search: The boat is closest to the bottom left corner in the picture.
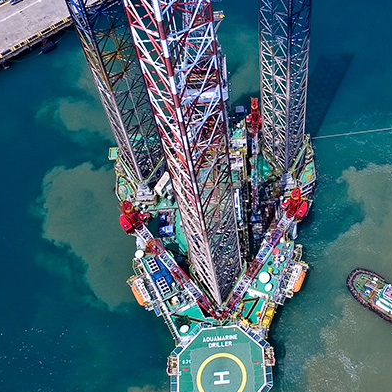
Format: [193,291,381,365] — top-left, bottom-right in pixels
[130,283,148,314]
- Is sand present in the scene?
No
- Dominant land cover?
water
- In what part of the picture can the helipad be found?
bottom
